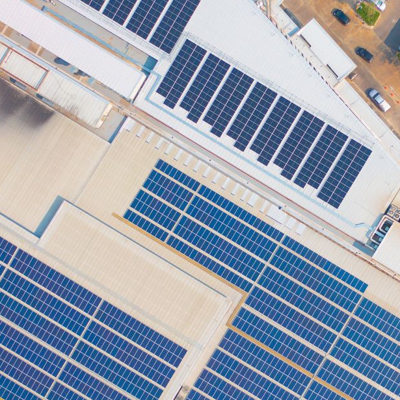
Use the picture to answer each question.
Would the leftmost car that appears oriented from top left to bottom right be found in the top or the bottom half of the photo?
top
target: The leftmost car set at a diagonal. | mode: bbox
[330,7,352,27]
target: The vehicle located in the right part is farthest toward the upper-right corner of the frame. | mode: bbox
[363,0,389,14]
